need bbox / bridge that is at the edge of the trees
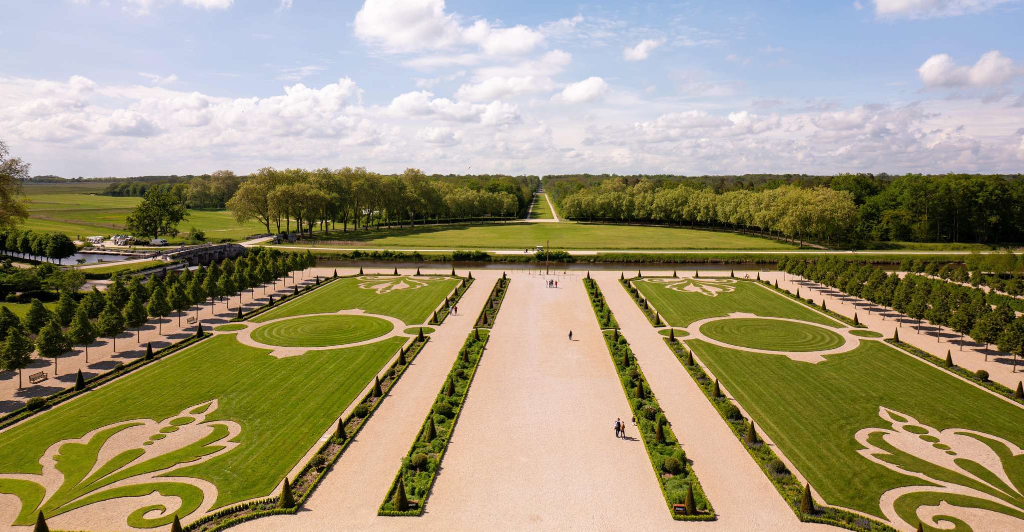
[154,242,253,262]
